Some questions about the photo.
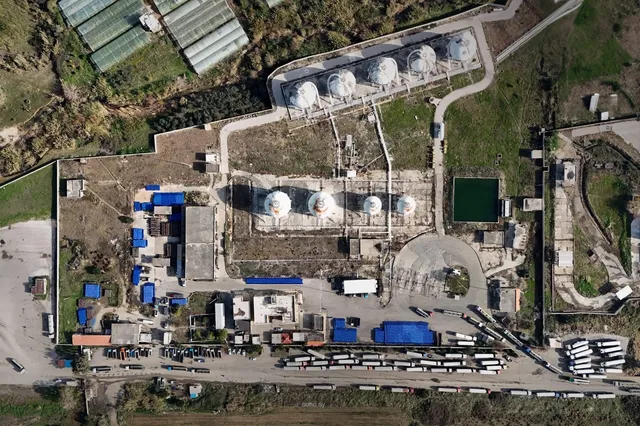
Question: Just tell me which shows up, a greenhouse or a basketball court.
greenhouse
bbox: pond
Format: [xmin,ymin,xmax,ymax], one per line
[453,177,500,222]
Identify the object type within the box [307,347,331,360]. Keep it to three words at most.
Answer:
vehicle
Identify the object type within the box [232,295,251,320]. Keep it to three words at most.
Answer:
house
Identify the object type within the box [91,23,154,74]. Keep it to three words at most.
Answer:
greenhouse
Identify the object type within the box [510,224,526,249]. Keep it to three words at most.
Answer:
building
